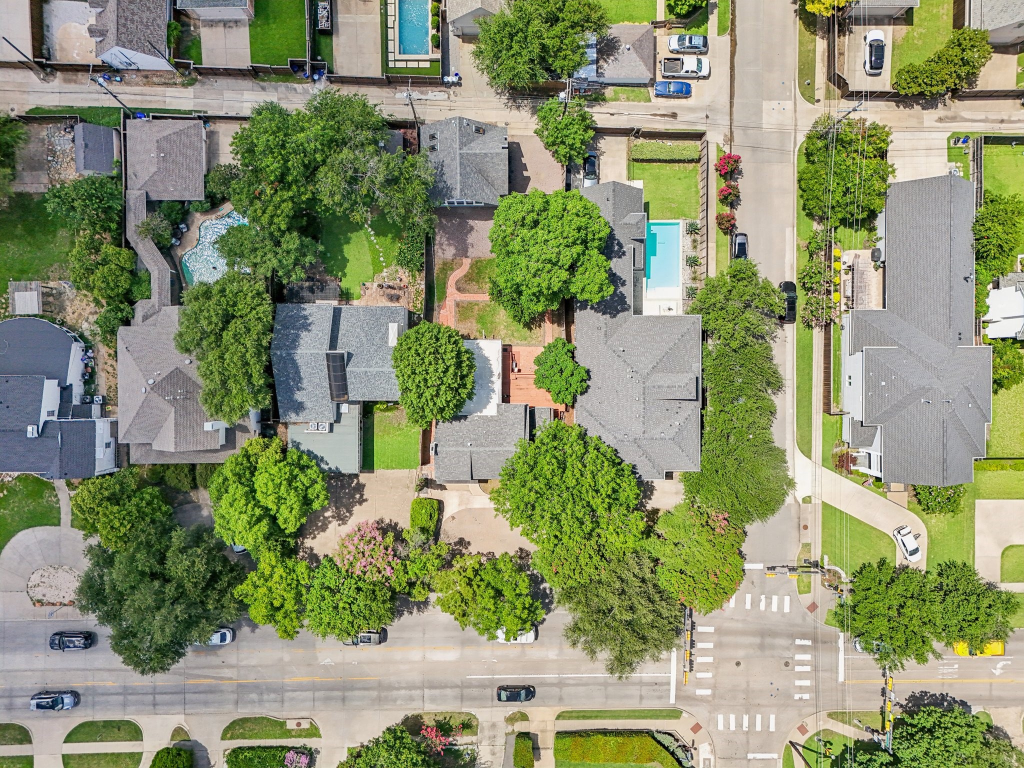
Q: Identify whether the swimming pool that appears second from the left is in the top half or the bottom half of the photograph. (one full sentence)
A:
The swimming pool that appears second from the left is in the top half of the image.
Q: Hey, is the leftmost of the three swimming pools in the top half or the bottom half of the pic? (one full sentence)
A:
The leftmost of the three swimming pools is in the top half of the image.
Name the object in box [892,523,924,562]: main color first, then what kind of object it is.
white car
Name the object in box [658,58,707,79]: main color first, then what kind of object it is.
white truck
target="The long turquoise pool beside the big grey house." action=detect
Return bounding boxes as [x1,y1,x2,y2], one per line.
[643,221,682,315]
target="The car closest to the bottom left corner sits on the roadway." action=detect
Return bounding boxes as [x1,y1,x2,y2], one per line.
[30,689,81,711]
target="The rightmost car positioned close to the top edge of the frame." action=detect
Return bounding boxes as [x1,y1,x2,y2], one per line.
[862,35,884,76]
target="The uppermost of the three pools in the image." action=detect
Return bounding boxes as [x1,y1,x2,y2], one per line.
[395,0,432,58]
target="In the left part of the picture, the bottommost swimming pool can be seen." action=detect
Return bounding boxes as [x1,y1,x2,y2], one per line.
[179,212,257,298]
